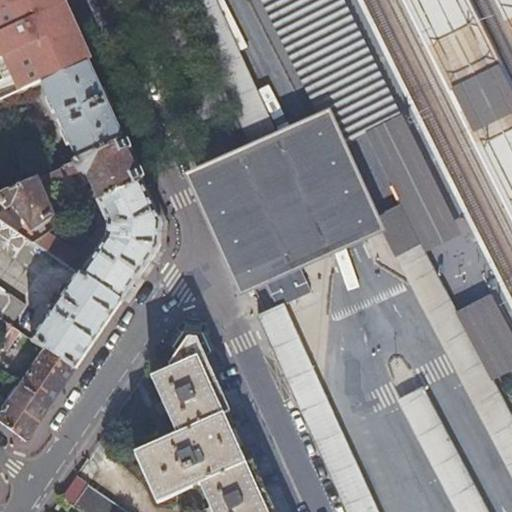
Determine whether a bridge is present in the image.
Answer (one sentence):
No, there isn't any bridge down there.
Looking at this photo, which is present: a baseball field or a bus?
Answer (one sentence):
Of the two, only a bus appears.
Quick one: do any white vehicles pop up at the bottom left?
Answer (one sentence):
Yes, at the bottom left there is a white vehicle.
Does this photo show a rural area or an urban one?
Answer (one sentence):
It looks urban.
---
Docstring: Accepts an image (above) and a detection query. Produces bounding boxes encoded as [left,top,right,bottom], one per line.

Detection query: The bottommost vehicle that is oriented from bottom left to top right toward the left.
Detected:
[50,409,68,430]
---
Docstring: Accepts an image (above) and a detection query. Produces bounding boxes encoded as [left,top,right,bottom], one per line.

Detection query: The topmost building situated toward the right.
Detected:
[260,0,401,139]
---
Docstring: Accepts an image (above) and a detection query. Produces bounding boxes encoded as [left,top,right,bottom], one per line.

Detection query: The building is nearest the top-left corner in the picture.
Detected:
[0,0,92,89]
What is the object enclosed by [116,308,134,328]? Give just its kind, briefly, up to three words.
car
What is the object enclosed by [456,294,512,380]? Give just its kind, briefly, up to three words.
building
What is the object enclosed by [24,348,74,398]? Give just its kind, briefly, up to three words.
house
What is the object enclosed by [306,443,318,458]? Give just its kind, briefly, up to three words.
vehicle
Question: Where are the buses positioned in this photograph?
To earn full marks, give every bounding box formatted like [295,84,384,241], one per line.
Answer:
[334,249,361,292]
[258,83,286,122]
[218,0,250,50]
